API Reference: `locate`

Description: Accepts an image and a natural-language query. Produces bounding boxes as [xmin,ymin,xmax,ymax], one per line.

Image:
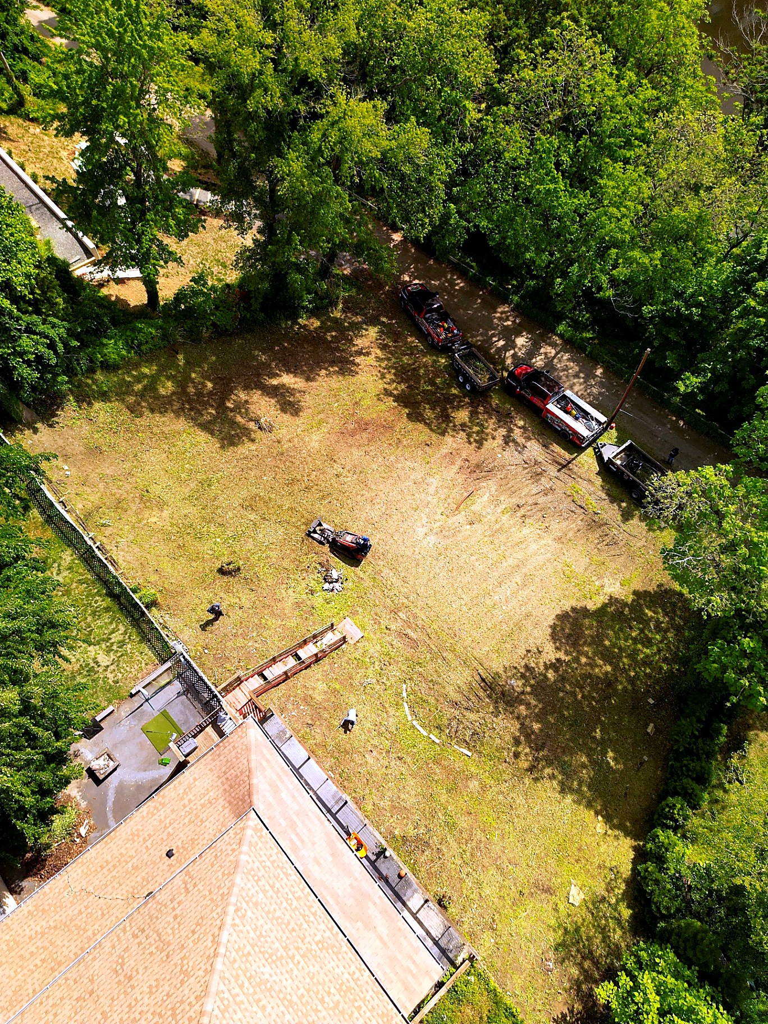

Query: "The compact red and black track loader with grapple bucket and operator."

[305,520,363,561]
